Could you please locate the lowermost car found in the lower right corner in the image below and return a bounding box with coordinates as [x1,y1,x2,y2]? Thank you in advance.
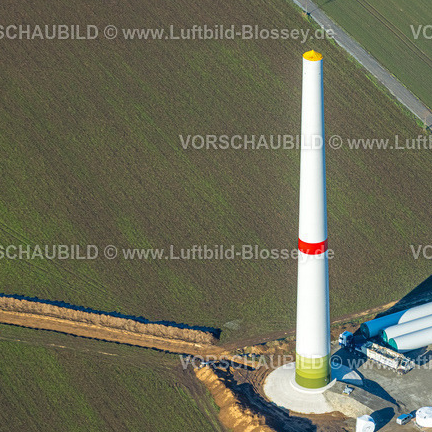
[394,411,415,426]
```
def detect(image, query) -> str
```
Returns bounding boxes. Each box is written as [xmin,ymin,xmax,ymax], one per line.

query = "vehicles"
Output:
[337,331,415,372]
[394,411,415,426]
